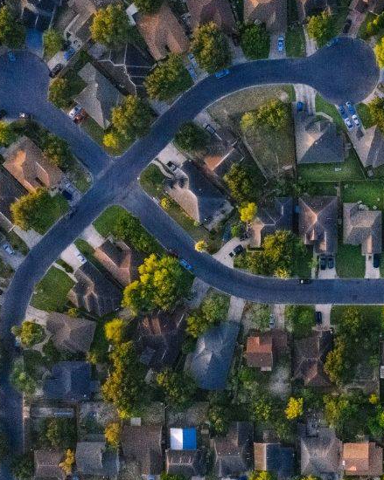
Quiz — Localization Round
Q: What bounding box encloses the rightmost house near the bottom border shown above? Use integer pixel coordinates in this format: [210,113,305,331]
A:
[342,442,383,477]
